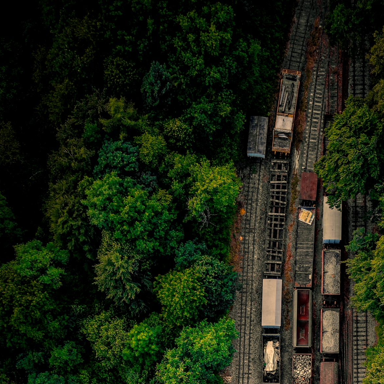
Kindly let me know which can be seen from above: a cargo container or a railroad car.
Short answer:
railroad car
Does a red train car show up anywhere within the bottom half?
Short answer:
Yes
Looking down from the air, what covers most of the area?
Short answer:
trees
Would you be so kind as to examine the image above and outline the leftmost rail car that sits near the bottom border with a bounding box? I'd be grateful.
[262,333,281,384]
